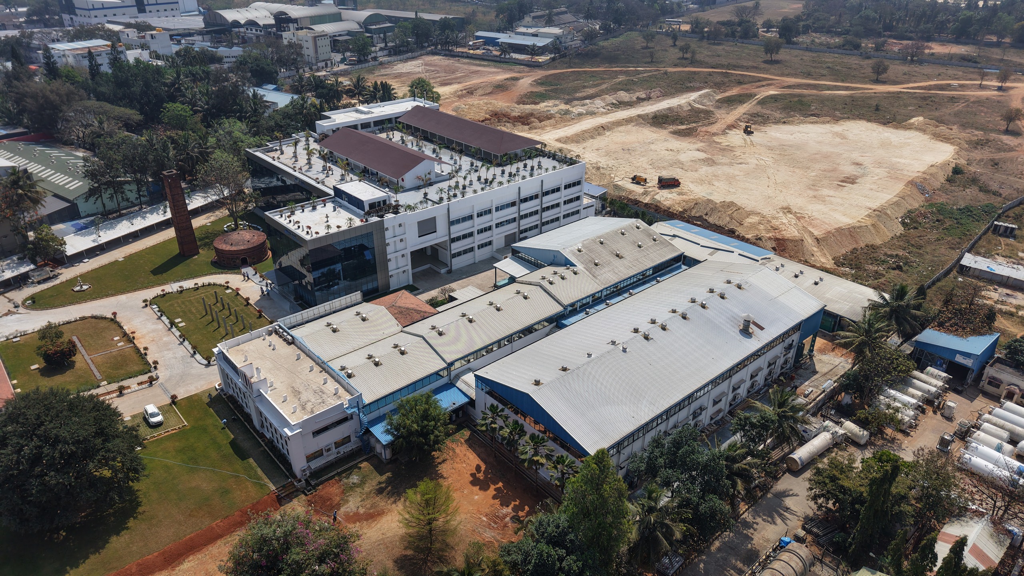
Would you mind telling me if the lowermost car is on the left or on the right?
left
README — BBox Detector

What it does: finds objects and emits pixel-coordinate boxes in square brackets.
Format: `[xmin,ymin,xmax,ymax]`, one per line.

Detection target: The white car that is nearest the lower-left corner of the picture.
[140,397,163,423]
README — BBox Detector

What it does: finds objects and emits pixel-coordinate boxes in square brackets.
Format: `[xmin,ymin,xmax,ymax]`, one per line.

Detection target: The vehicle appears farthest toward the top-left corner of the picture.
[24,264,60,283]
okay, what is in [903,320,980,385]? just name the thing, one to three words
shed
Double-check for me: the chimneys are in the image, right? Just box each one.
[160,172,201,257]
